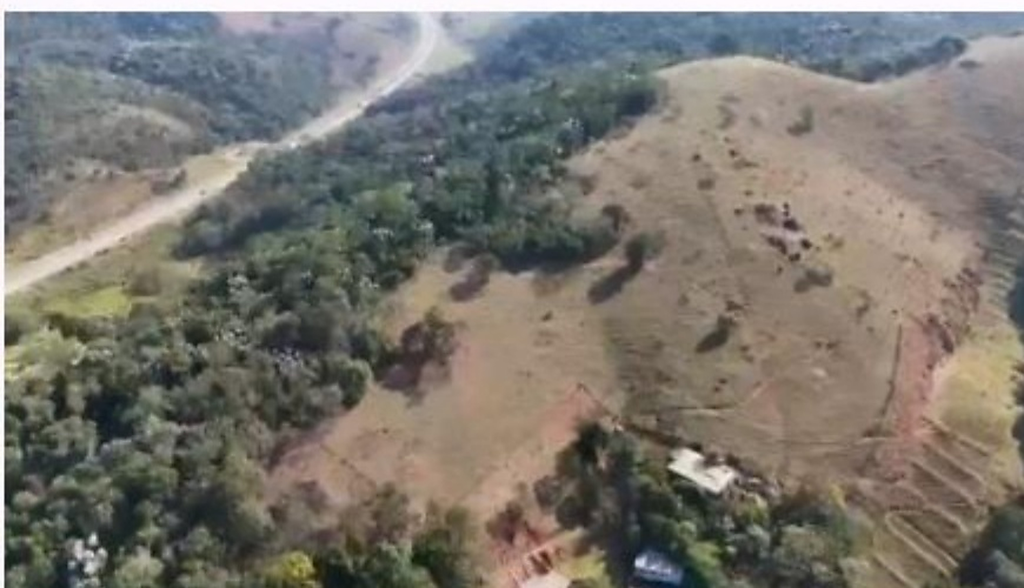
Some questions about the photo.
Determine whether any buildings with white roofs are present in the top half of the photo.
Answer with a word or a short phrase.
No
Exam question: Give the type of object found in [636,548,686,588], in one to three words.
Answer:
shed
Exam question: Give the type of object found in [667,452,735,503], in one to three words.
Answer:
house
